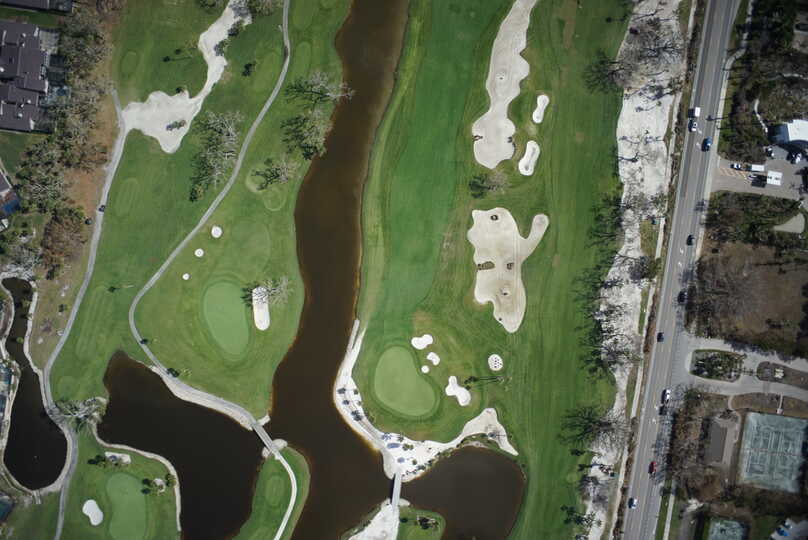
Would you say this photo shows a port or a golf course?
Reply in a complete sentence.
This image shows a golf course.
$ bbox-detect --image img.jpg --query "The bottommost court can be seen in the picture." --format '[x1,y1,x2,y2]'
[709,519,747,540]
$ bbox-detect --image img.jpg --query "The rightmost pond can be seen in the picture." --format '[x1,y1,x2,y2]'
[399,445,525,540]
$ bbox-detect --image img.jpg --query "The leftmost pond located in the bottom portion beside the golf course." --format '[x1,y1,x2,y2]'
[2,277,68,489]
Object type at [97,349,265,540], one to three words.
pond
